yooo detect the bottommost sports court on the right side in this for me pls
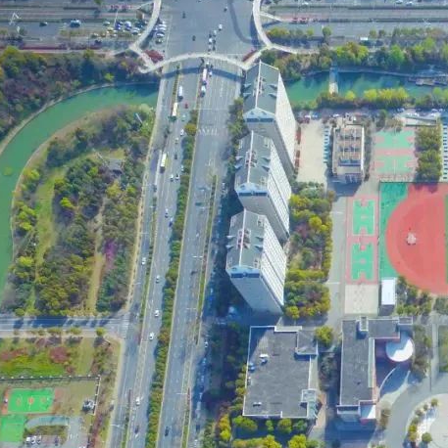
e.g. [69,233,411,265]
[345,284,378,315]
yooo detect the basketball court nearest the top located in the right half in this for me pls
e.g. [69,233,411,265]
[373,126,416,152]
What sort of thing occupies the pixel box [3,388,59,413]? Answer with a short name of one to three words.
sports court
